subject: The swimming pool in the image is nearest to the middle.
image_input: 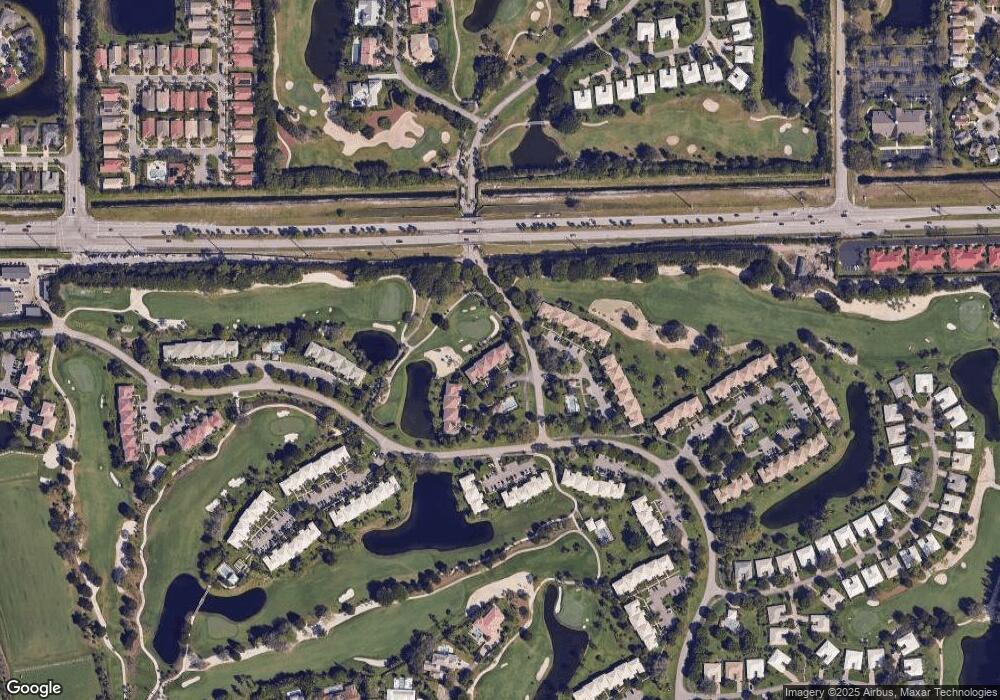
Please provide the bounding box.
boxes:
[494,395,518,417]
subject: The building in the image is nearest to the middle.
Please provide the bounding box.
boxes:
[465,342,512,386]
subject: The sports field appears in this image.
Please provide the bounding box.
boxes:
[0,454,101,700]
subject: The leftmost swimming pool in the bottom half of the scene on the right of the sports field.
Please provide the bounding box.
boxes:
[149,451,181,477]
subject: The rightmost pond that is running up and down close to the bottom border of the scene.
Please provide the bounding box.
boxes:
[532,584,589,700]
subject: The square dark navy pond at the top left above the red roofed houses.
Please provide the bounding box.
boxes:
[108,0,176,34]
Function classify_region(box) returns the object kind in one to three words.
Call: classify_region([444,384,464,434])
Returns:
building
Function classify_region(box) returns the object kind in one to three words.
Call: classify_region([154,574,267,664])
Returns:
pond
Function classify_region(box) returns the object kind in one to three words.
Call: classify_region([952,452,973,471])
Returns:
house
